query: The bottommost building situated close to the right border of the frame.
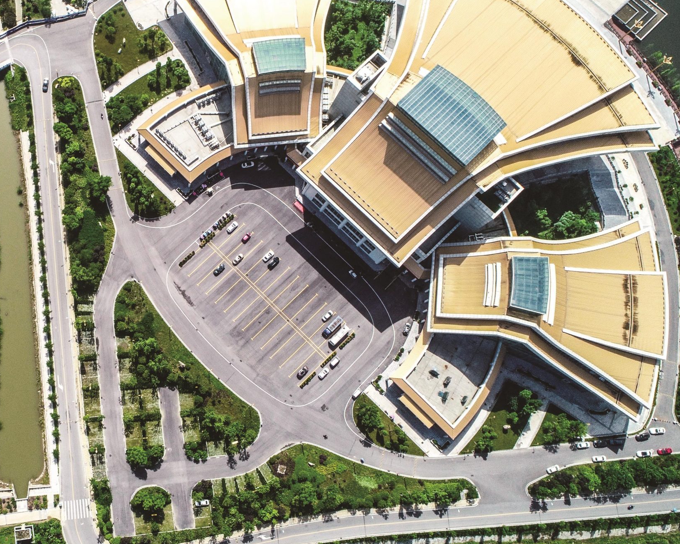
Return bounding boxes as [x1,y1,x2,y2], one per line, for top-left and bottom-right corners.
[420,217,670,421]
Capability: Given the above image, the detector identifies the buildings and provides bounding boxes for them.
[172,0,333,159]
[420,217,670,421]
[283,0,661,285]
